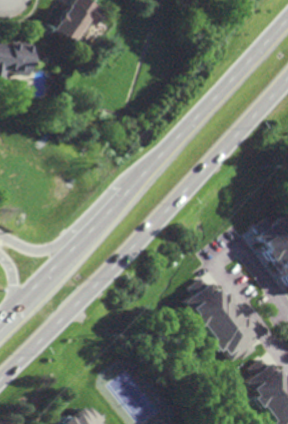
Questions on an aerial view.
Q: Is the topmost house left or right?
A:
left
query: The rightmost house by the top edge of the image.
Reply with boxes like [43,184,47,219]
[54,0,98,36]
